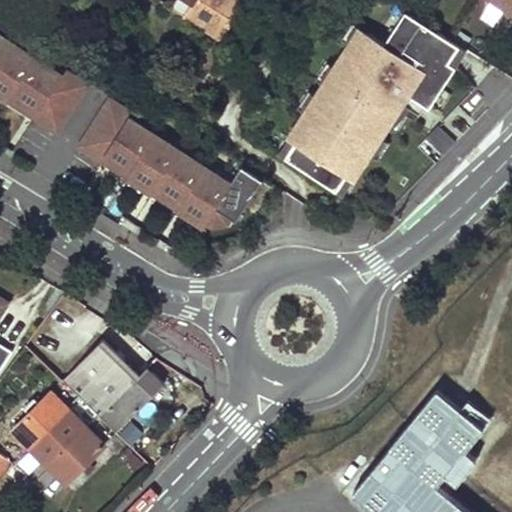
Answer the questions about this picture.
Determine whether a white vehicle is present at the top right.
Yes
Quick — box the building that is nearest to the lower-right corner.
[352,394,481,512]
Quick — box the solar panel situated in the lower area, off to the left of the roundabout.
[12,422,38,448]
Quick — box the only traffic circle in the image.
[162,240,392,442]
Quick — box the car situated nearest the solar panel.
[44,480,62,497]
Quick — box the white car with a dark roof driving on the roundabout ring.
[218,326,237,346]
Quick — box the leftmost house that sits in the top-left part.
[0,35,88,135]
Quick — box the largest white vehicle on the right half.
[340,456,367,484]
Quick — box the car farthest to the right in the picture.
[463,92,483,112]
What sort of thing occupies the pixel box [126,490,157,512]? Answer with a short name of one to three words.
bus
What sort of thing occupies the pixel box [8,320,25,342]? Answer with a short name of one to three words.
car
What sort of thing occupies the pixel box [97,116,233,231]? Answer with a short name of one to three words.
house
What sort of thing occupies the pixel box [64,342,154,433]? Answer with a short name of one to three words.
building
